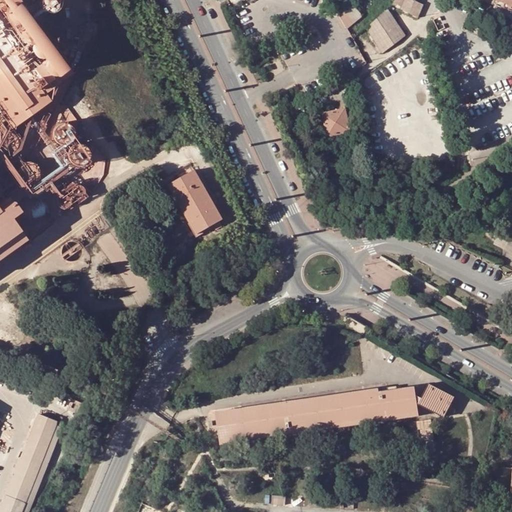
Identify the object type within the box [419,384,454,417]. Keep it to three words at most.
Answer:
shed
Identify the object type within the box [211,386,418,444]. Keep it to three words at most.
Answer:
building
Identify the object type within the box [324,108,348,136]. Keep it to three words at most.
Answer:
house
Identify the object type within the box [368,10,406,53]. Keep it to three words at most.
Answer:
barn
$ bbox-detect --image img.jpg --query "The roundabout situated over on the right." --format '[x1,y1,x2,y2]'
[284,236,360,310]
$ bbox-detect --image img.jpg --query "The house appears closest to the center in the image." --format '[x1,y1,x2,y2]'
[172,162,222,237]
